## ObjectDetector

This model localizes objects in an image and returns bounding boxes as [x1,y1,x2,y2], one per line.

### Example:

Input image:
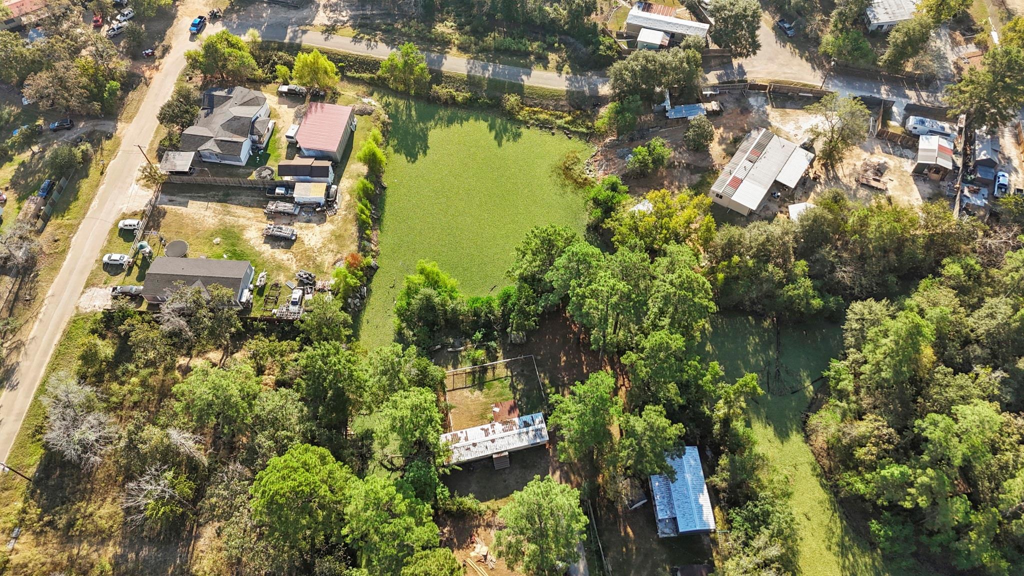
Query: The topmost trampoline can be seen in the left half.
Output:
[255,166,274,180]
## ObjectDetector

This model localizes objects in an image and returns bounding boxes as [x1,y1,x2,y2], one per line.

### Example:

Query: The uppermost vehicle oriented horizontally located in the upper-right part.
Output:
[904,116,956,143]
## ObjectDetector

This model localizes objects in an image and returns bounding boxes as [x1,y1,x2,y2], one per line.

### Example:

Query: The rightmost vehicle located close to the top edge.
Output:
[776,20,796,36]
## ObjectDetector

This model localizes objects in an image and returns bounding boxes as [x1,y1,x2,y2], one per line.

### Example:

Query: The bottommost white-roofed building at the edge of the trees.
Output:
[440,412,549,477]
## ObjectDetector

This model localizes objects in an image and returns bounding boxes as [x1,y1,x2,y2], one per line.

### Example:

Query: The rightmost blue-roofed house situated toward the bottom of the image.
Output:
[646,445,715,537]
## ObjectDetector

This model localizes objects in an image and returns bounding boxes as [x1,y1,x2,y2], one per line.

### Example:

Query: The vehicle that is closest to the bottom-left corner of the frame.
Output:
[110,285,142,297]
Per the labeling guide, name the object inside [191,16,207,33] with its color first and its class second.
blue vehicle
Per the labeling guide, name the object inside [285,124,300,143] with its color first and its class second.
white vehicle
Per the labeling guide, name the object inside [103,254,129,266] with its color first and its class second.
white vehicle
